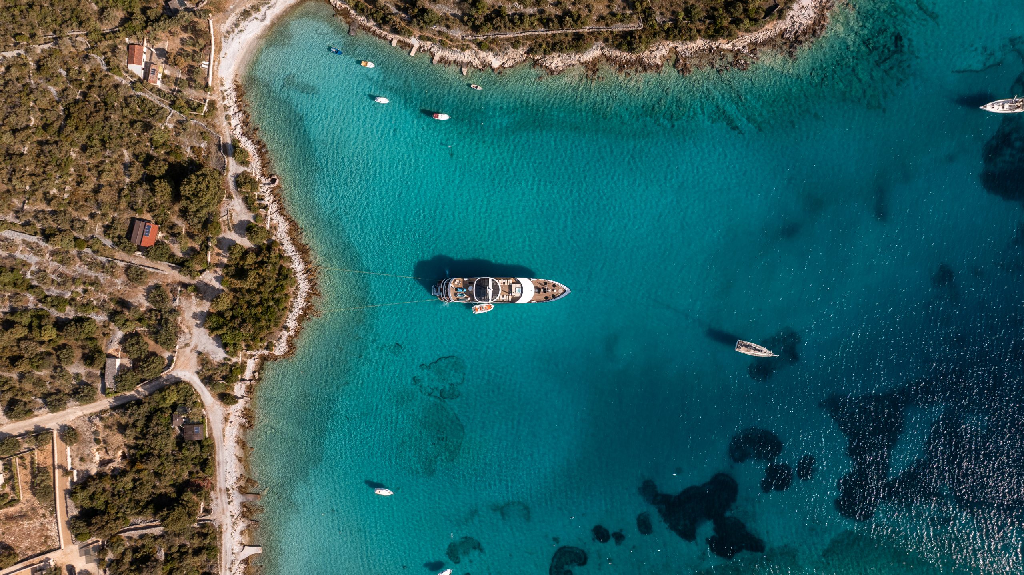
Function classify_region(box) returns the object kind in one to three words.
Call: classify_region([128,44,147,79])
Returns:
house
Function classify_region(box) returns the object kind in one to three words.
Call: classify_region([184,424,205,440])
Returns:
house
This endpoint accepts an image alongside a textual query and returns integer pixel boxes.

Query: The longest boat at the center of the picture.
[432,275,571,303]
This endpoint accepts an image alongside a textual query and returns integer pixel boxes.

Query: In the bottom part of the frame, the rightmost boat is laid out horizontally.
[735,342,773,357]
